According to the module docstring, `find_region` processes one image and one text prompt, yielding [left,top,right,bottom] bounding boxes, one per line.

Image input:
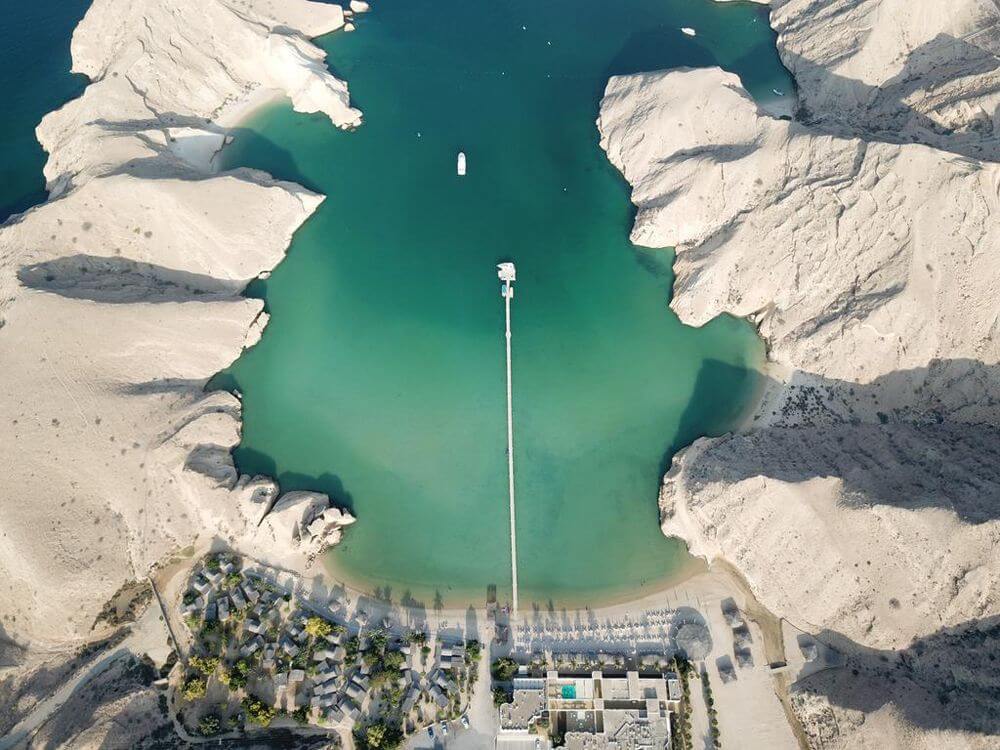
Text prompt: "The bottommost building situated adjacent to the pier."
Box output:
[497,655,686,750]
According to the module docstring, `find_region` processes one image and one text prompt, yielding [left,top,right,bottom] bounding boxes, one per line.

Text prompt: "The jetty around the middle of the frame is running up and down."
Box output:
[497,263,517,613]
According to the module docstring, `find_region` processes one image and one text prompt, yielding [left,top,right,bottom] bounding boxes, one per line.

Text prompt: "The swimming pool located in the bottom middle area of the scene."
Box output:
[562,685,576,698]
